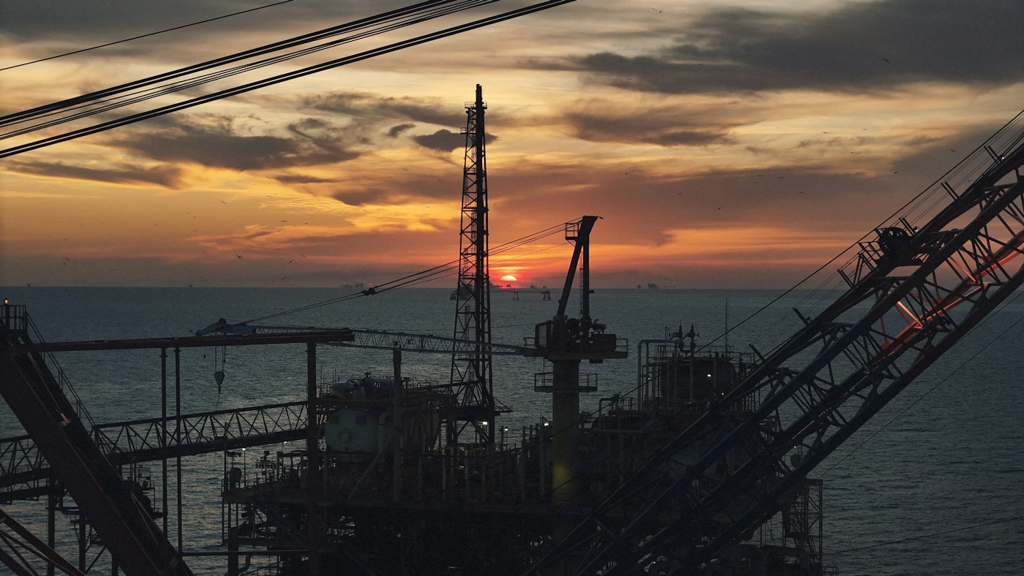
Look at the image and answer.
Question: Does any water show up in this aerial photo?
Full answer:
Yes, some water is visible.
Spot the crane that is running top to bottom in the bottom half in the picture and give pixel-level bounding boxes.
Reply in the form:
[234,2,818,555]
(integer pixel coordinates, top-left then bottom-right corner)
[524,215,629,492]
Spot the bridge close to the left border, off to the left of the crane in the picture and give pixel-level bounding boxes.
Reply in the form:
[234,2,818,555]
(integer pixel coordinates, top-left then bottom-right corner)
[0,400,327,507]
